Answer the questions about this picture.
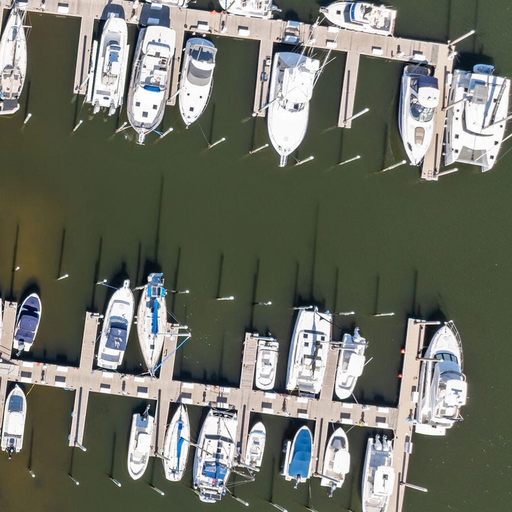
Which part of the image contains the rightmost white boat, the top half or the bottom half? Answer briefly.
top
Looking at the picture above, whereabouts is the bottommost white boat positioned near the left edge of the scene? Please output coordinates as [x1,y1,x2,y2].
[0,384,26,457]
